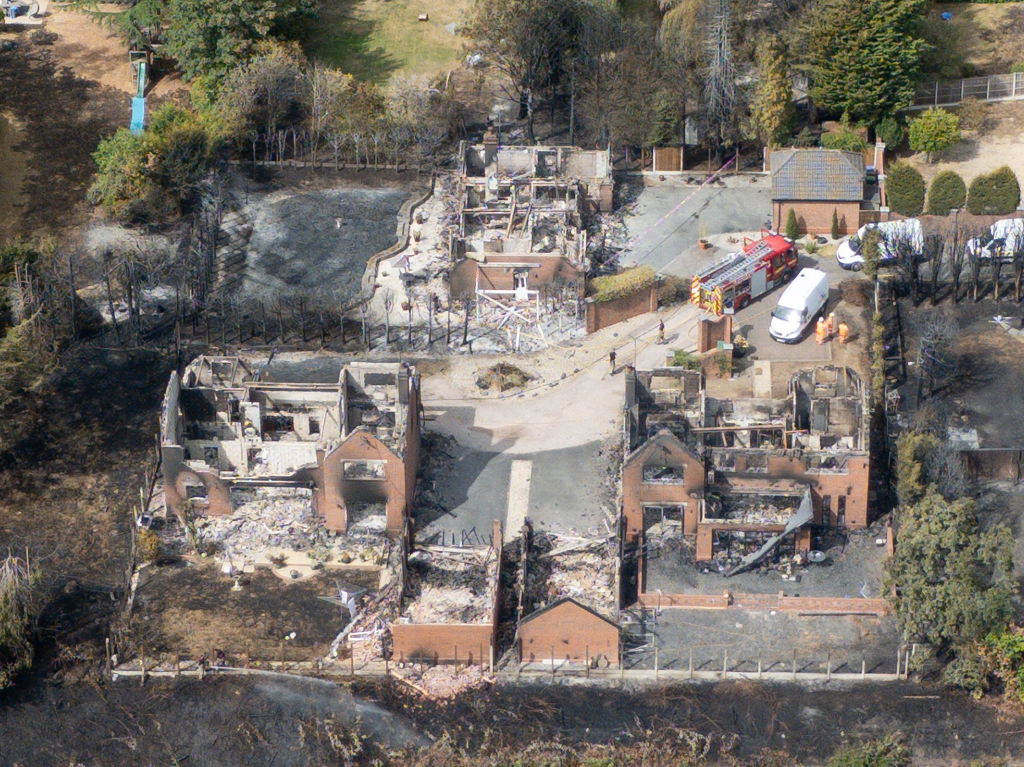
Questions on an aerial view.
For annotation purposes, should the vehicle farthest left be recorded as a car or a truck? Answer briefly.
truck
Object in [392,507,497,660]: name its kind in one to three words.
building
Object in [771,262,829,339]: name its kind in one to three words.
van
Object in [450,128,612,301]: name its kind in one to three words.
house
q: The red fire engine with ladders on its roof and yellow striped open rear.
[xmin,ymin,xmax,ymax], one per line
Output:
[691,220,798,309]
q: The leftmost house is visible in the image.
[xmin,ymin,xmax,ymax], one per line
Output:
[156,354,421,533]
